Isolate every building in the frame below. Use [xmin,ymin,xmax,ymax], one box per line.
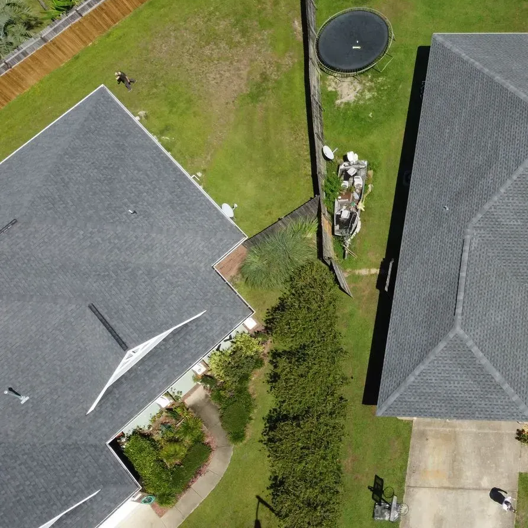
[376,32,528,424]
[0,85,270,528]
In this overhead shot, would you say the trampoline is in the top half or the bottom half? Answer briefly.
top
